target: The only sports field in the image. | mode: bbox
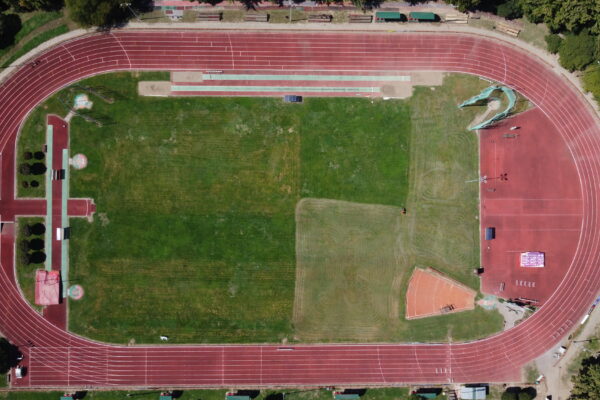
[15,70,536,344]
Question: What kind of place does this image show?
sports ground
